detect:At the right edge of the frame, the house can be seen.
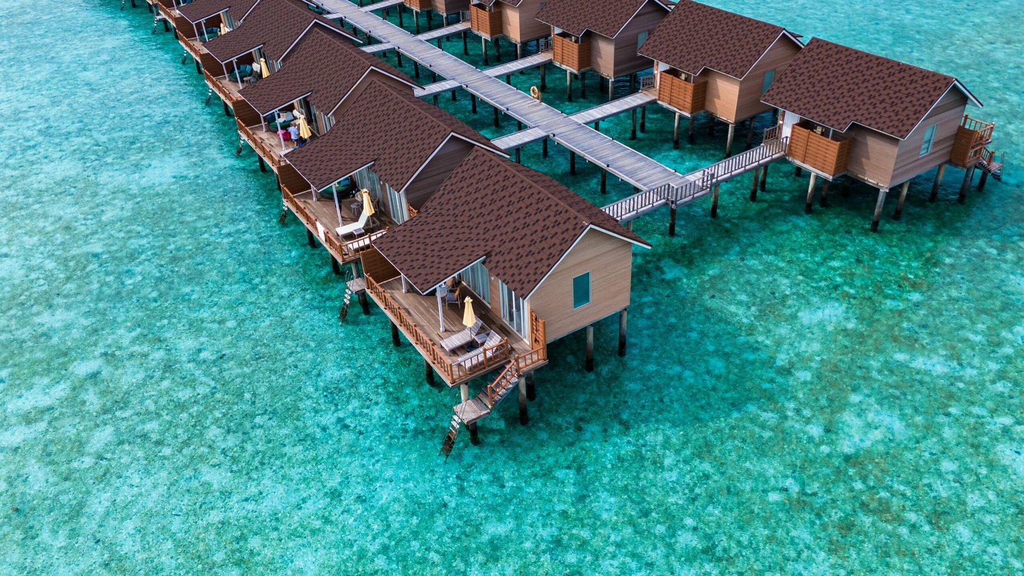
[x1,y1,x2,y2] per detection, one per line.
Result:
[761,37,1003,248]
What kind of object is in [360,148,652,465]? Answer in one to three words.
house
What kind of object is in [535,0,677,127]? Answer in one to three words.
house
